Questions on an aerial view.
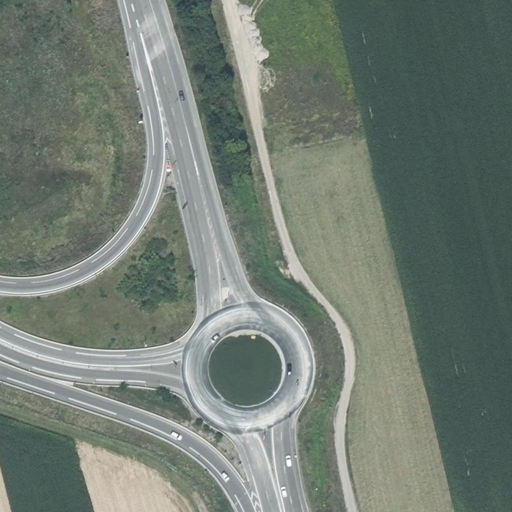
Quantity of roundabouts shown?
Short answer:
1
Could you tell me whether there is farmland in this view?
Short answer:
Yes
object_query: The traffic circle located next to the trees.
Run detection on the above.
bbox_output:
[182,300,314,434]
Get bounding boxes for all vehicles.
[178,90,184,101]
[170,431,182,440]
[281,486,287,498]
[286,364,292,375]
[286,456,292,468]
[211,332,220,342]
[220,472,230,482]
